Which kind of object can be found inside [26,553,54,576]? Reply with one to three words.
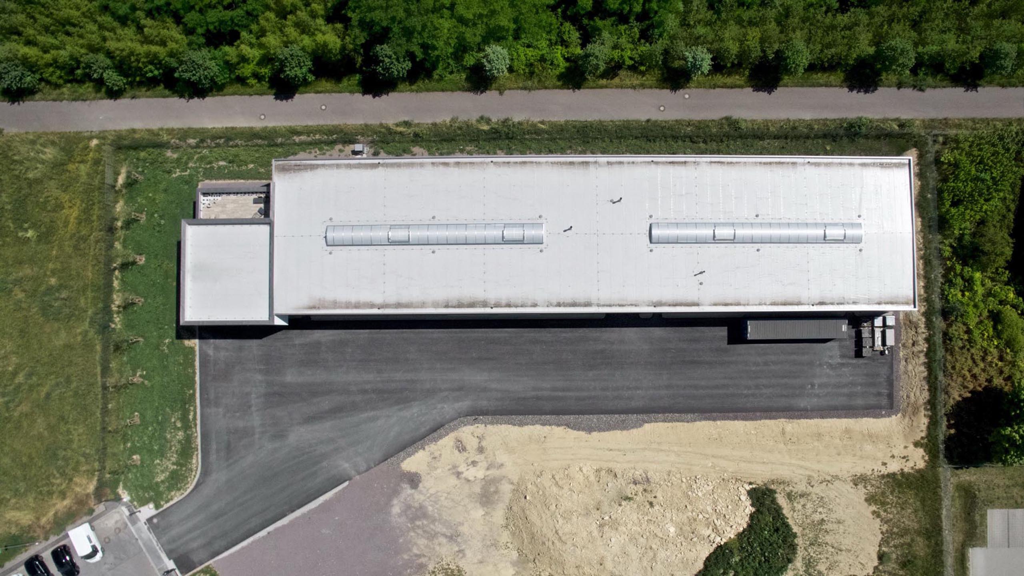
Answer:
car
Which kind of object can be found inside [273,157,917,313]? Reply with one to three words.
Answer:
warehouse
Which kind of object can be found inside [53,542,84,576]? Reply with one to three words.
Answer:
car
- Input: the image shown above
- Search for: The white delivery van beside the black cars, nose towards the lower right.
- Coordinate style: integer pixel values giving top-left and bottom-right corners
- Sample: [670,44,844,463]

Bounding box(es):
[67,521,104,562]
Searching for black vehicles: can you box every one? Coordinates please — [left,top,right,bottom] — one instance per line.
[53,542,84,576]
[26,553,54,576]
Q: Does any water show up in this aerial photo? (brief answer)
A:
No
